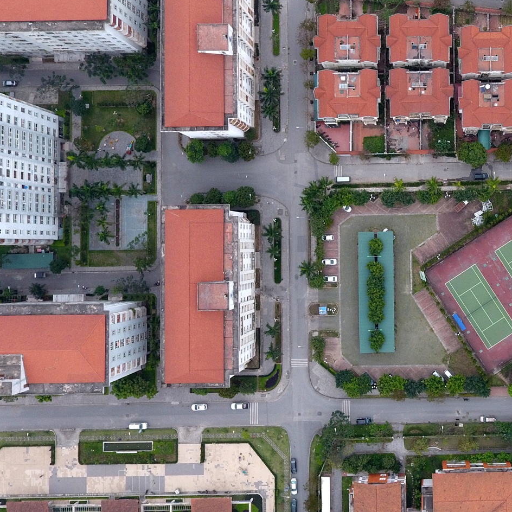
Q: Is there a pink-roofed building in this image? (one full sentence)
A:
Yes, you can see a pink-roofed building in this photo.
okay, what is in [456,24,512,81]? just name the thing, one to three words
house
